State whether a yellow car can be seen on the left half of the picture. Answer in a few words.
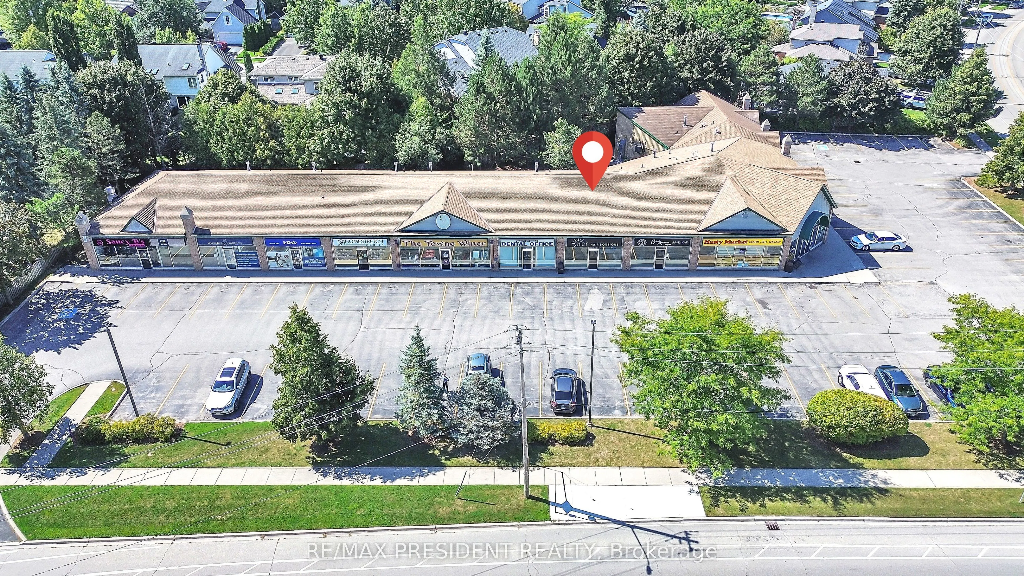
No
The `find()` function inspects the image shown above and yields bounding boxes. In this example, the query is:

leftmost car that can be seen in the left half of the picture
[210,348,262,407]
